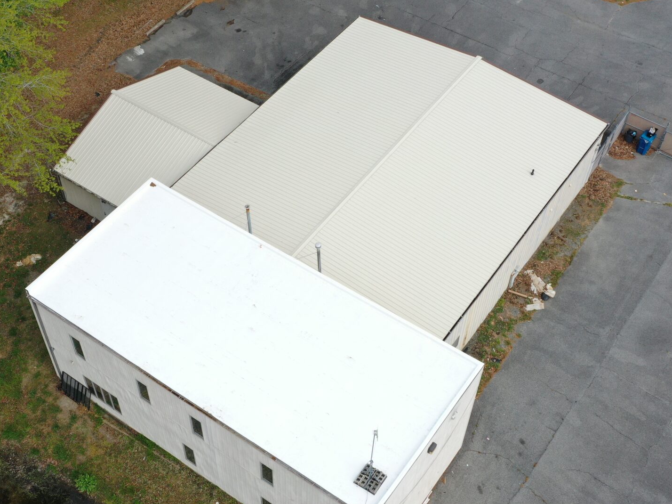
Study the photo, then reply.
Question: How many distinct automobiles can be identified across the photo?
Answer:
0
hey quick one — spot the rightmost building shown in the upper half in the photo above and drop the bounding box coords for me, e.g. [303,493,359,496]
[167,14,611,349]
